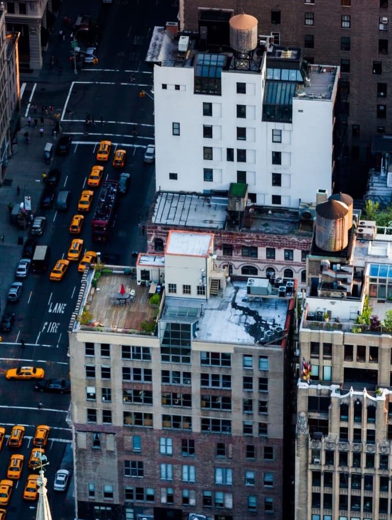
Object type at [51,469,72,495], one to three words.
car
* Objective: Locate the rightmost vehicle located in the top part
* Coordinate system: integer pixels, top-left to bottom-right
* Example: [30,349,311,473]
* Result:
[142,145,156,166]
